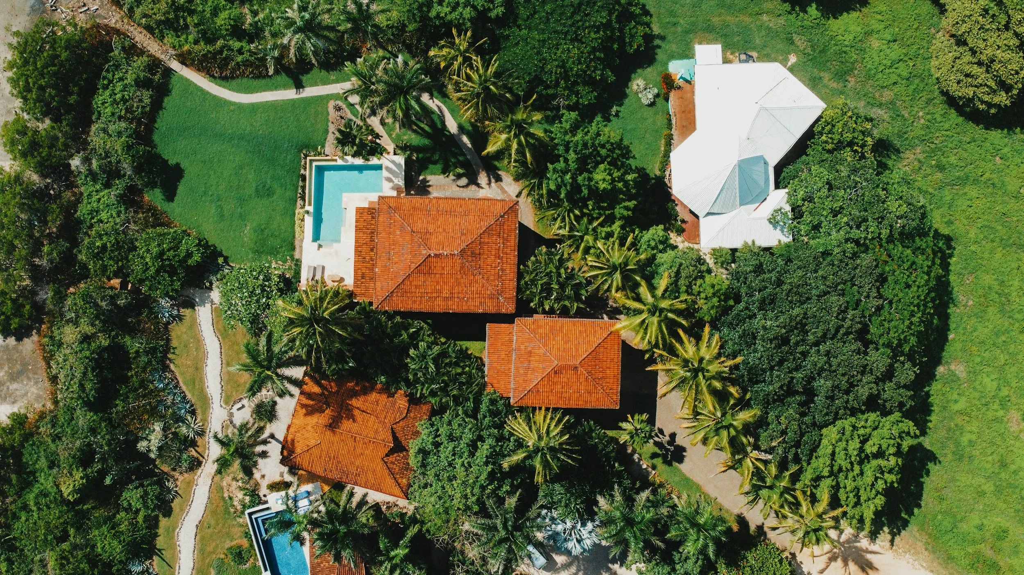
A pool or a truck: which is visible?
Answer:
pool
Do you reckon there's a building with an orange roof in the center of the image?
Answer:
Yes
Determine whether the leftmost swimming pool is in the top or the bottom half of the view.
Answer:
bottom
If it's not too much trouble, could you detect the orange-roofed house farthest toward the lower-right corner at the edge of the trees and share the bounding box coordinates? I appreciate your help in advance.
[485,314,622,410]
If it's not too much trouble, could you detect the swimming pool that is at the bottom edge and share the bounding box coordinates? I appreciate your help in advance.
[245,481,324,575]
